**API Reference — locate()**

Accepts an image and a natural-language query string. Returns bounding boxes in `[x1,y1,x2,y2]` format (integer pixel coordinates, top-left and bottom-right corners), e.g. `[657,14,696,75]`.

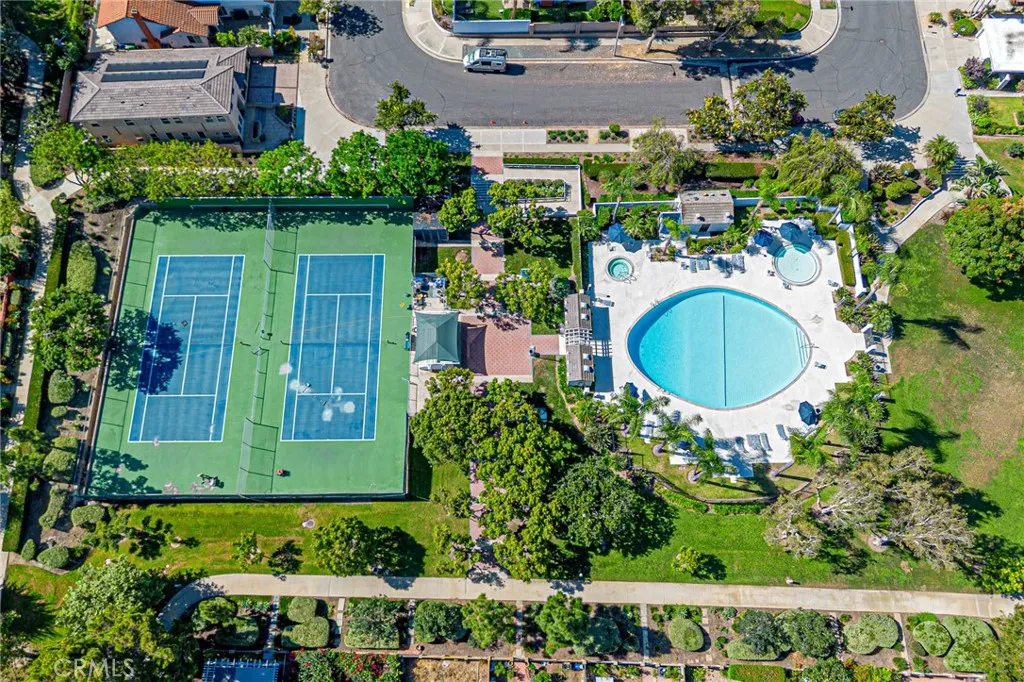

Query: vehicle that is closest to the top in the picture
[462,48,506,73]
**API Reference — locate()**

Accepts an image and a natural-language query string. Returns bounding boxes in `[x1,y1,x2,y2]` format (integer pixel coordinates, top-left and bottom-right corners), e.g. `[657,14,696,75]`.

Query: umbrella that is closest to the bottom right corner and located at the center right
[794,403,819,424]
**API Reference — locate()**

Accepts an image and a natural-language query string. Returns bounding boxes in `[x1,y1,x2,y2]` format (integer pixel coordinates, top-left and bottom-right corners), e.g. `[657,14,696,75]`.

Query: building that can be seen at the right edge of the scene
[970,18,1024,90]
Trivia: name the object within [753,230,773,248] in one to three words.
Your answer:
umbrella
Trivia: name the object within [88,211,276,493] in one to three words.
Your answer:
tennis court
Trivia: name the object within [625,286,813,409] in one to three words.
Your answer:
swimming pool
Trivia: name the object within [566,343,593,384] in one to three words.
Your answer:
building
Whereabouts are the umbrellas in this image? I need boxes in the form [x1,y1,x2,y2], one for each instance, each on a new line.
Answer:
[619,382,638,401]
[778,223,801,243]
[606,224,629,244]
[753,230,773,248]
[794,403,819,424]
